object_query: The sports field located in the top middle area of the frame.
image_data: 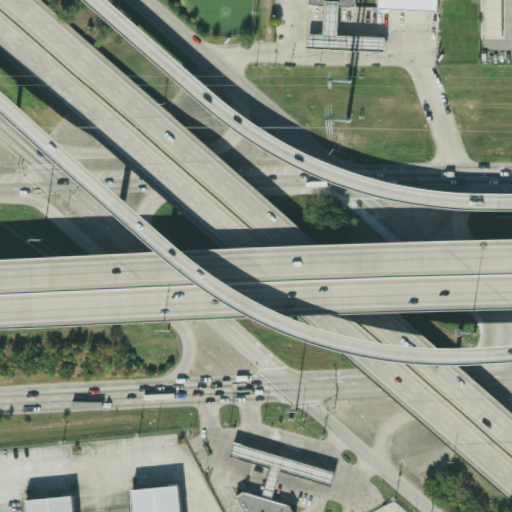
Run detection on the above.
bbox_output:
[186,0,250,36]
